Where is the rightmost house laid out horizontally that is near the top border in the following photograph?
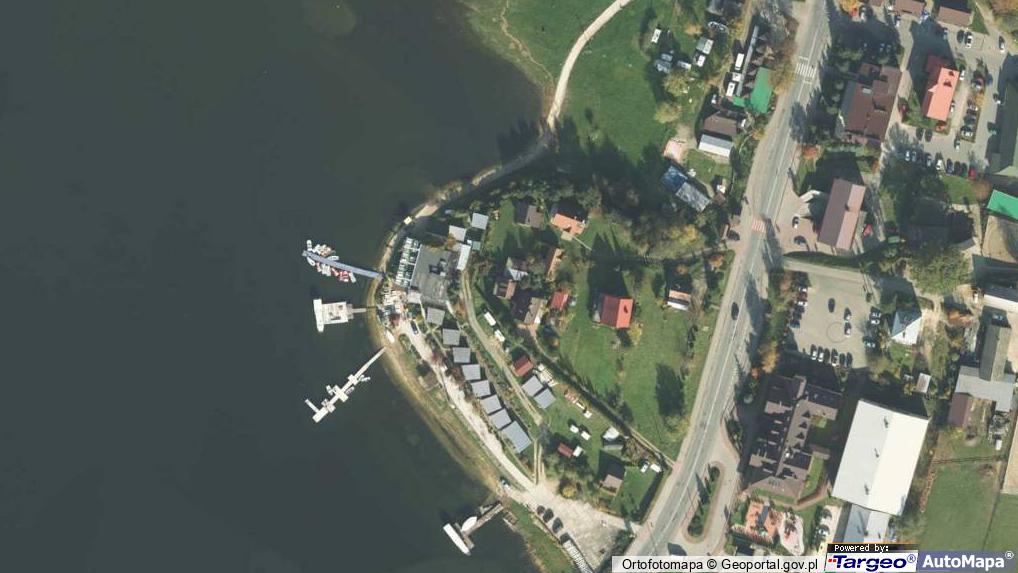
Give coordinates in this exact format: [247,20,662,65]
[937,5,972,26]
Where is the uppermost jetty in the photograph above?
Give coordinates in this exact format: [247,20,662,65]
[301,250,384,279]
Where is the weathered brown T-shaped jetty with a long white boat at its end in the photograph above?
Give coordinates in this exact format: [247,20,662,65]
[453,502,505,549]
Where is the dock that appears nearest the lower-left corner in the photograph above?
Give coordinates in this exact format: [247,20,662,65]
[307,351,383,423]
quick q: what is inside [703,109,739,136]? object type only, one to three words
house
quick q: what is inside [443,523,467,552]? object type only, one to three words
boat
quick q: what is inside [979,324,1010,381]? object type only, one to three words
barn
